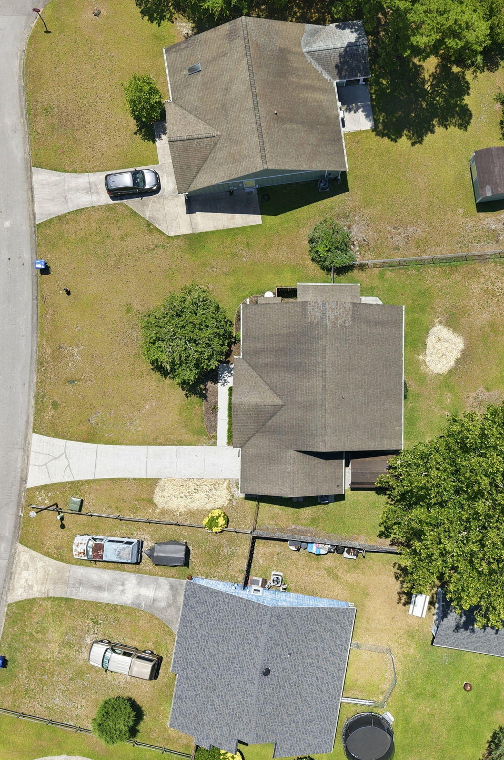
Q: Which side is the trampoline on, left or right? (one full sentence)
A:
You can find the trampoline on the right side of the picture.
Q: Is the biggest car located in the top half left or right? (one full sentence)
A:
You can find the biggest car located in the top half on the left side of the picture.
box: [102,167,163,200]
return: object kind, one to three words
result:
car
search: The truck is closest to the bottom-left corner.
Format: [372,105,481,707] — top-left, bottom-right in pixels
[89,639,163,679]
